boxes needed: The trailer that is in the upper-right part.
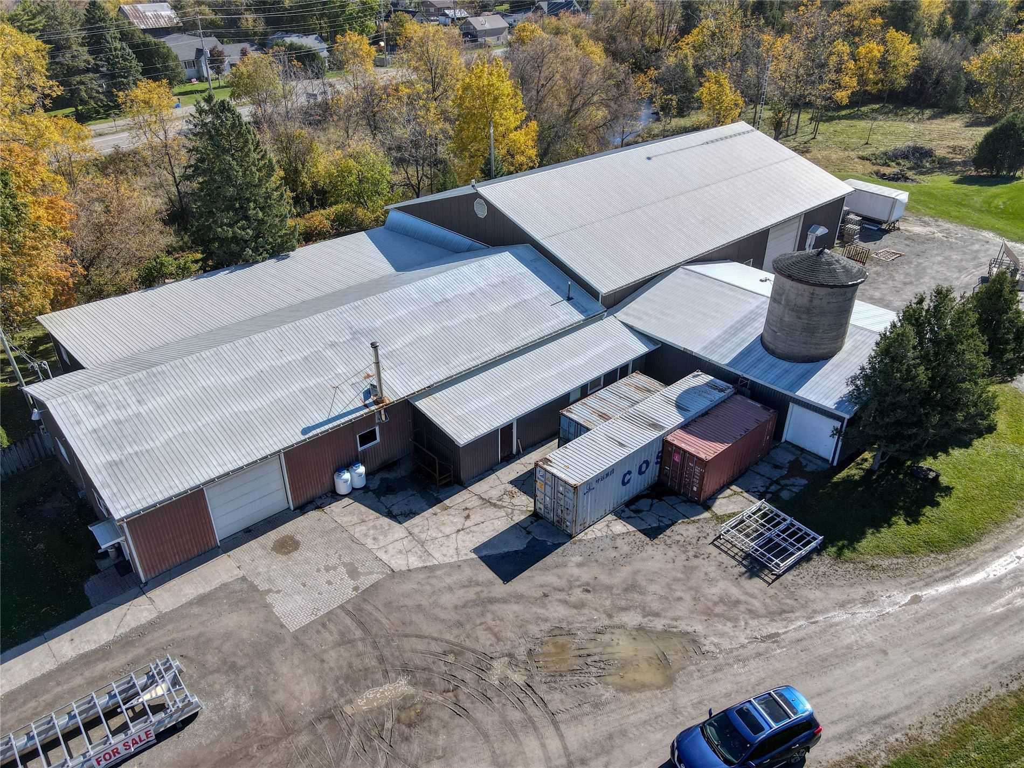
[837,178,912,241]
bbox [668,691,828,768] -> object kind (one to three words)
car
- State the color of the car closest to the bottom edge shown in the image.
blue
